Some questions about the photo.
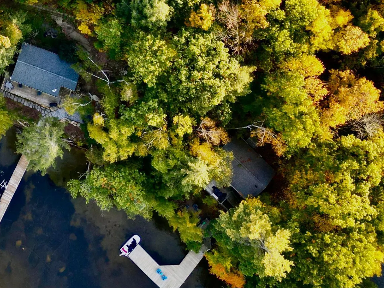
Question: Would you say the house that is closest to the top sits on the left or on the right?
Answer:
left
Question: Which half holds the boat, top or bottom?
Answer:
bottom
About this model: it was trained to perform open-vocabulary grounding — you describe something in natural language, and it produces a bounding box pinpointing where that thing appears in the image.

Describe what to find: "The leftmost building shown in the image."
[1,41,81,108]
